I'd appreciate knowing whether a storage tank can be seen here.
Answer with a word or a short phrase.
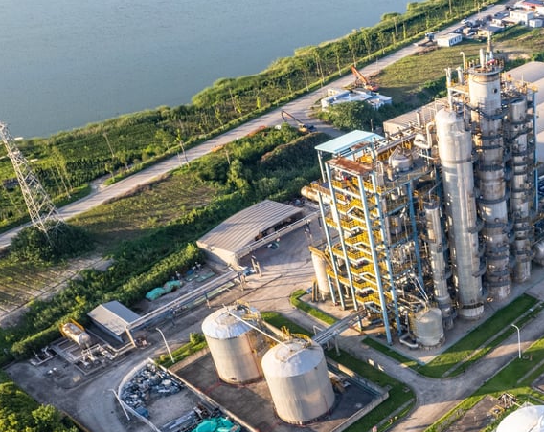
Yes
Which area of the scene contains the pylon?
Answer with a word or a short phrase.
left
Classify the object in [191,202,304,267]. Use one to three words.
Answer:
shed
